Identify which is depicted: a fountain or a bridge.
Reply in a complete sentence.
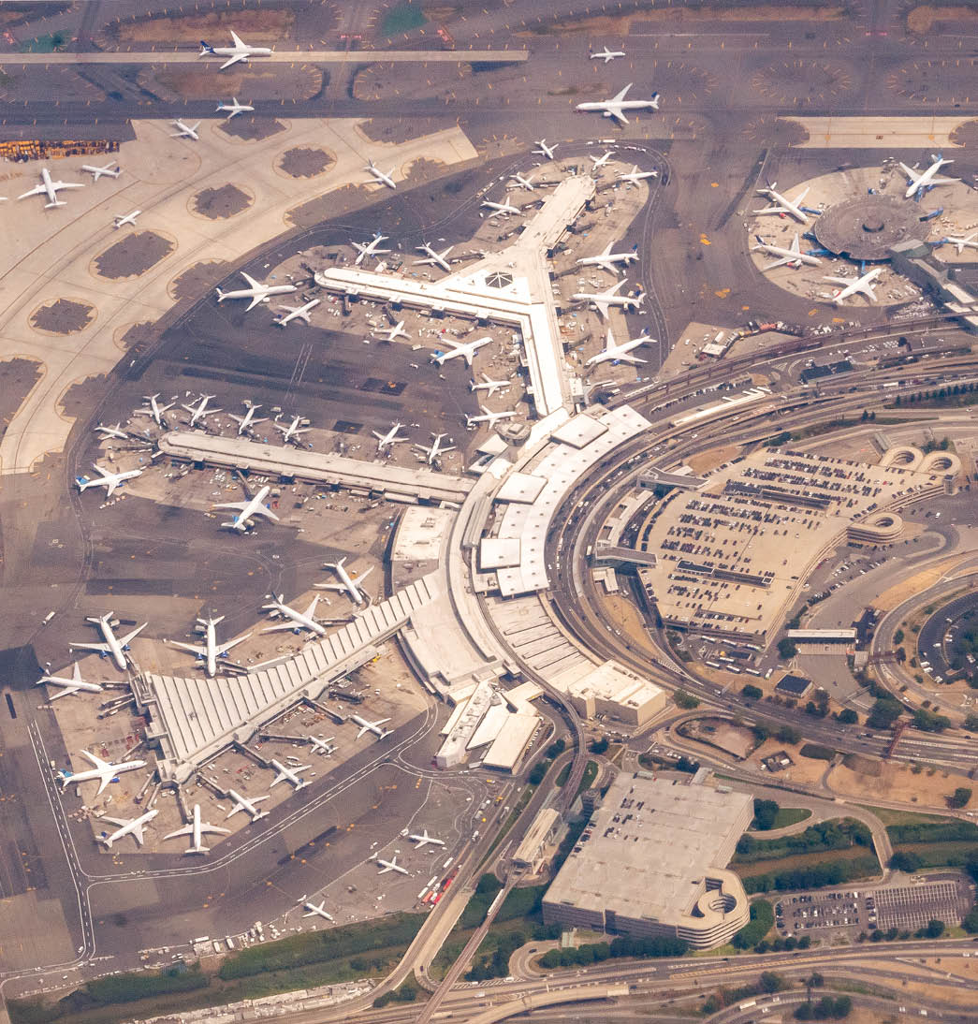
The one in the frame is a bridge.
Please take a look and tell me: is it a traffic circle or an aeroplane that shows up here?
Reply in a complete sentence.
The image shows an aeroplane.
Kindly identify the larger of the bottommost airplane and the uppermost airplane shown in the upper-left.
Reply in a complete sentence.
The uppermost airplane shown in the upper-left takes up more space than the bottommost airplane.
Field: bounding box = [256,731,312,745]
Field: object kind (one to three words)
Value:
jet bridge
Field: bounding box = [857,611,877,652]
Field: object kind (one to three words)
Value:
building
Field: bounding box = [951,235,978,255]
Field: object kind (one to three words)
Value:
airplane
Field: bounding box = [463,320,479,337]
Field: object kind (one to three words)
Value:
jet bridge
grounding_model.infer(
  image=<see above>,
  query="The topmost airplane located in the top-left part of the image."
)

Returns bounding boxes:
[201,32,272,69]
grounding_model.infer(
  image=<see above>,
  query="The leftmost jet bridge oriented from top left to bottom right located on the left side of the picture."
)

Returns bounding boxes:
[122,652,139,673]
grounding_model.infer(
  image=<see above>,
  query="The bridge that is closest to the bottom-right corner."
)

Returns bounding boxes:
[863,825,897,877]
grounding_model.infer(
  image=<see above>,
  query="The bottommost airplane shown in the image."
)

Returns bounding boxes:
[303,896,332,920]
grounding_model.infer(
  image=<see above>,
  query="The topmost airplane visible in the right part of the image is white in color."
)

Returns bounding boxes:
[588,44,625,64]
